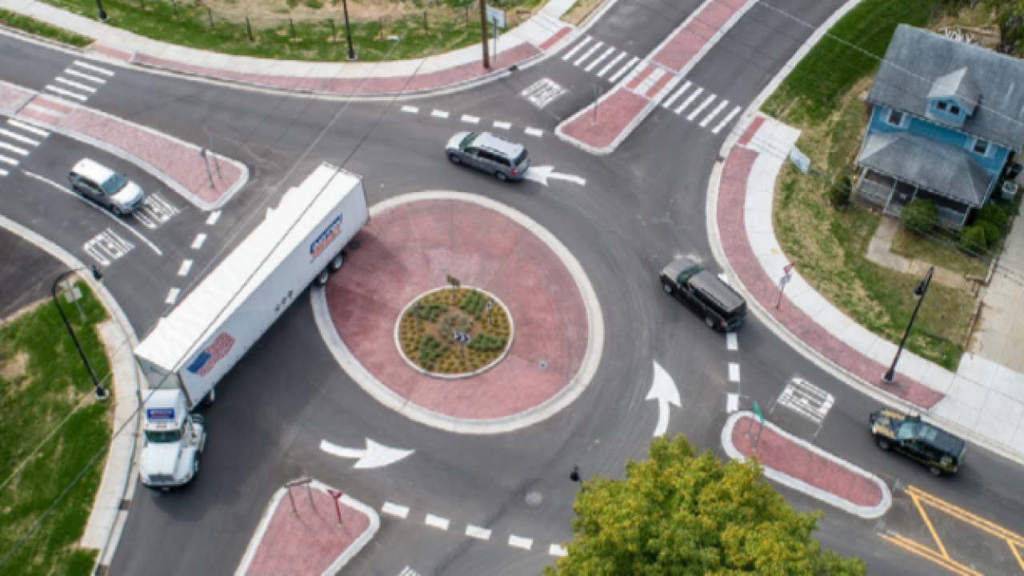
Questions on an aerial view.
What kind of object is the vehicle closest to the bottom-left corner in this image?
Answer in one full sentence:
The vehicle closest to the bottom-left corner is a truck.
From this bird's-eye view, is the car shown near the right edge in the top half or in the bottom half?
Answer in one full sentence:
The car shown near the right edge is in the bottom half of the image.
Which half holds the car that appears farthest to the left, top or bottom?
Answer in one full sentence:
The car that appears farthest to the left sits in the top half of the picture.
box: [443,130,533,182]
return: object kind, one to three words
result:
car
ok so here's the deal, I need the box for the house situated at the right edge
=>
[848,22,1024,242]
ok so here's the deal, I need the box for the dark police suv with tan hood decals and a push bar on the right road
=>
[866,403,977,482]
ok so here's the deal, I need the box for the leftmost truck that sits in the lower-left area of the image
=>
[131,377,214,490]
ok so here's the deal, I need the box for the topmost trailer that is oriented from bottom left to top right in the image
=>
[132,161,370,403]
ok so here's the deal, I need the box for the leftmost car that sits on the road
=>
[64,154,146,214]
